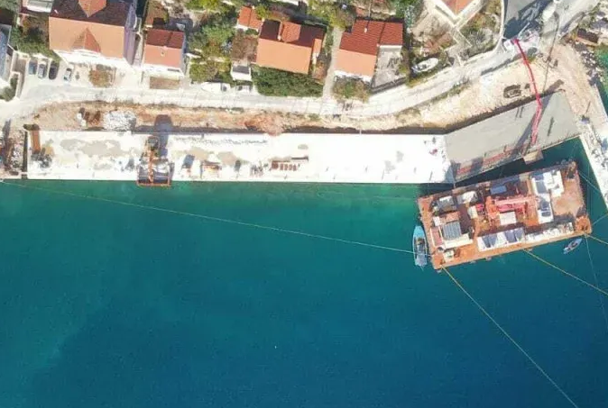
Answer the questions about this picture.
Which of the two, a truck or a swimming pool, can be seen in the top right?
truck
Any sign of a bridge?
No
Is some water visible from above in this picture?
Yes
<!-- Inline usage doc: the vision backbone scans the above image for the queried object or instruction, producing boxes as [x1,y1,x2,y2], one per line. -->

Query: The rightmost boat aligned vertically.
[414,224,427,266]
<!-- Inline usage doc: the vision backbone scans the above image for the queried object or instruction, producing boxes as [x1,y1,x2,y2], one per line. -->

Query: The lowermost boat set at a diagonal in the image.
[562,239,581,255]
